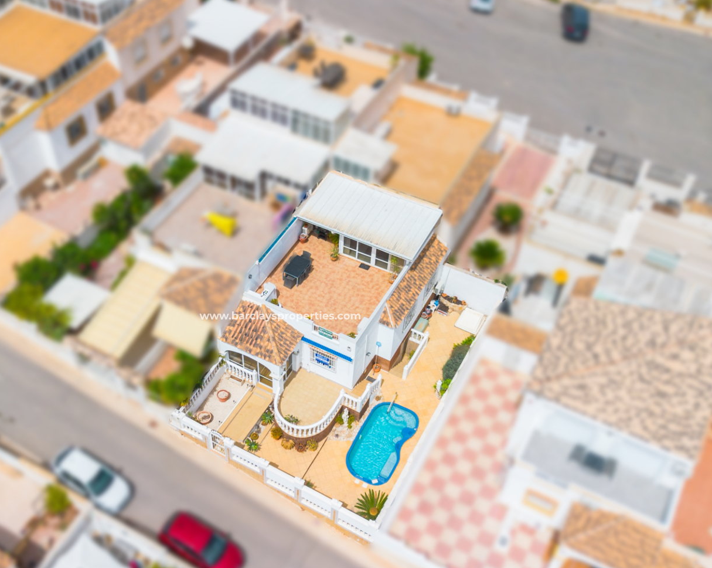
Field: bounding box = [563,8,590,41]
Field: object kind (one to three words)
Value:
car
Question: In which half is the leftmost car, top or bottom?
bottom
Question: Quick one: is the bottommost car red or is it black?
red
